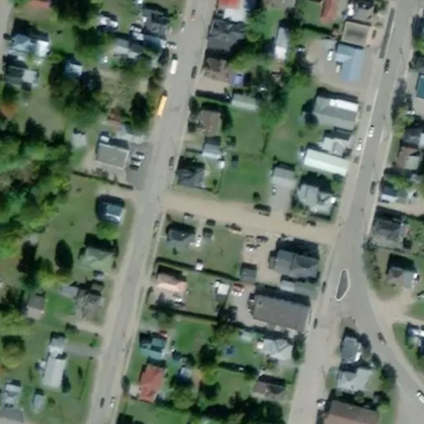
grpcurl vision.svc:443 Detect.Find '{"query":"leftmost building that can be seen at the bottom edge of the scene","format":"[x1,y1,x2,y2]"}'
[0,380,22,408]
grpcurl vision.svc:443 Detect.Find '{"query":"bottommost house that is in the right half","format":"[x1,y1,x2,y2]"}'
[325,399,380,424]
